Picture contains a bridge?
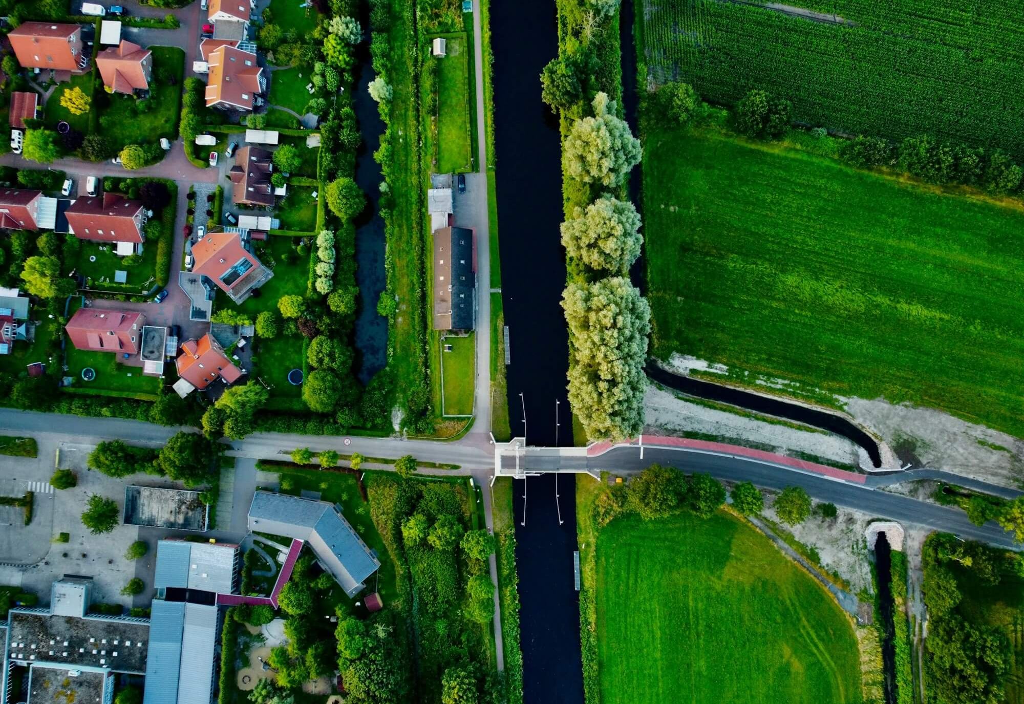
Yes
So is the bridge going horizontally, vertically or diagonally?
horizontally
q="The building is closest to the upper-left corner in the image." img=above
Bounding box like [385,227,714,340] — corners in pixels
[8,22,91,72]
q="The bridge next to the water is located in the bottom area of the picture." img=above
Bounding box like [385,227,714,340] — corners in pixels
[489,431,600,487]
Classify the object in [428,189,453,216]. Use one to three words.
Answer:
barn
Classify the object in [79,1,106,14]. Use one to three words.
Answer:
vehicle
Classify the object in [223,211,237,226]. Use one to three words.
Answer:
car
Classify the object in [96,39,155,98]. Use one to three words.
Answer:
house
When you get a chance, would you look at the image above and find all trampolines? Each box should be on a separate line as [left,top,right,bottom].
[58,121,69,133]
[79,368,95,381]
[287,369,303,385]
